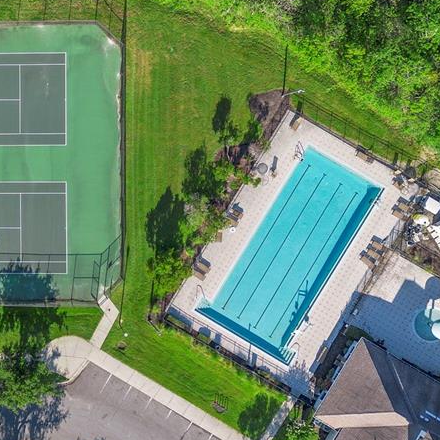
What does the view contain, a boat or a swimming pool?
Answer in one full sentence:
Of the two, only a swimming pool appears.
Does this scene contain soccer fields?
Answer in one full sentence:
No, the photo shows no soccer field.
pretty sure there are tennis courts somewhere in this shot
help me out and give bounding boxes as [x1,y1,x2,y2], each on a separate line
[0,182,67,274]
[0,53,67,146]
